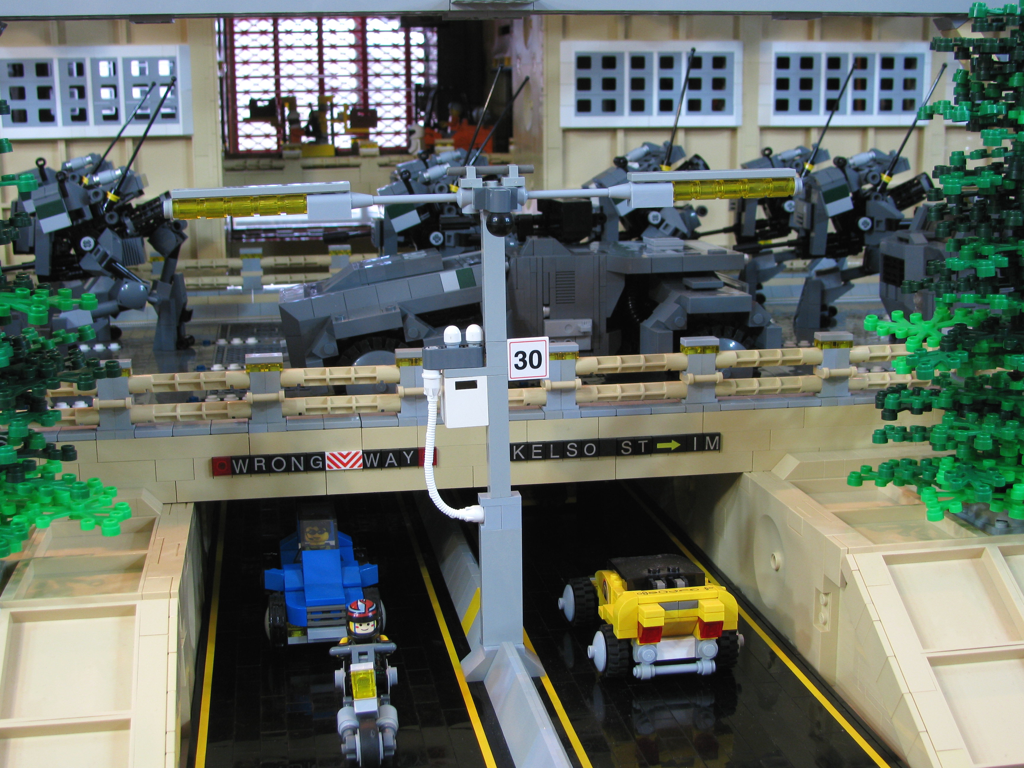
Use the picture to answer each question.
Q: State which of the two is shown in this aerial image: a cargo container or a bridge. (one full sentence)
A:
Looking from above, you can make out a bridge.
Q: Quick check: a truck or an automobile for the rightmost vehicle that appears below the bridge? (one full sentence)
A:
In the photo, the rightmost vehicle that appears below the bridge shows up as an automobile.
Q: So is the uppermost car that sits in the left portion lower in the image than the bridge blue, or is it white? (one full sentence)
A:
The uppermost car that sits in the left portion lower in the image than the bridge looks blue in the image.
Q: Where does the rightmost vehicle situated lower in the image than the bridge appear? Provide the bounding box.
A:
[557,544,750,676]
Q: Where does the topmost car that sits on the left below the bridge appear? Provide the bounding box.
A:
[259,504,389,641]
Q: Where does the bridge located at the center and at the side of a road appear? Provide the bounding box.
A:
[21,389,1022,503]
